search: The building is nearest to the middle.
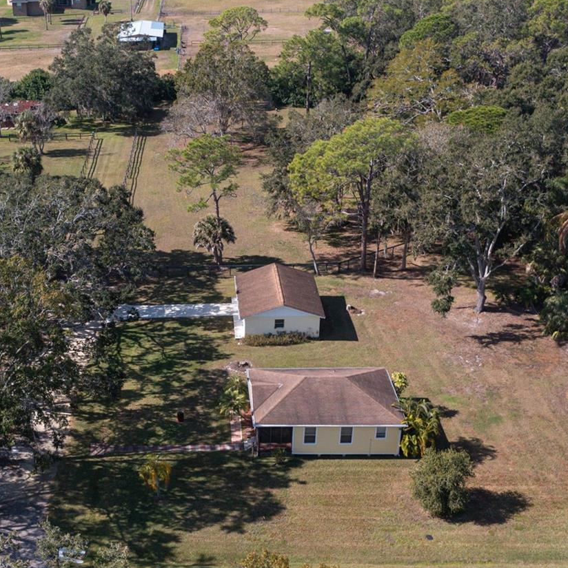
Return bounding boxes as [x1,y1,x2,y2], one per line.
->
[234,263,324,340]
